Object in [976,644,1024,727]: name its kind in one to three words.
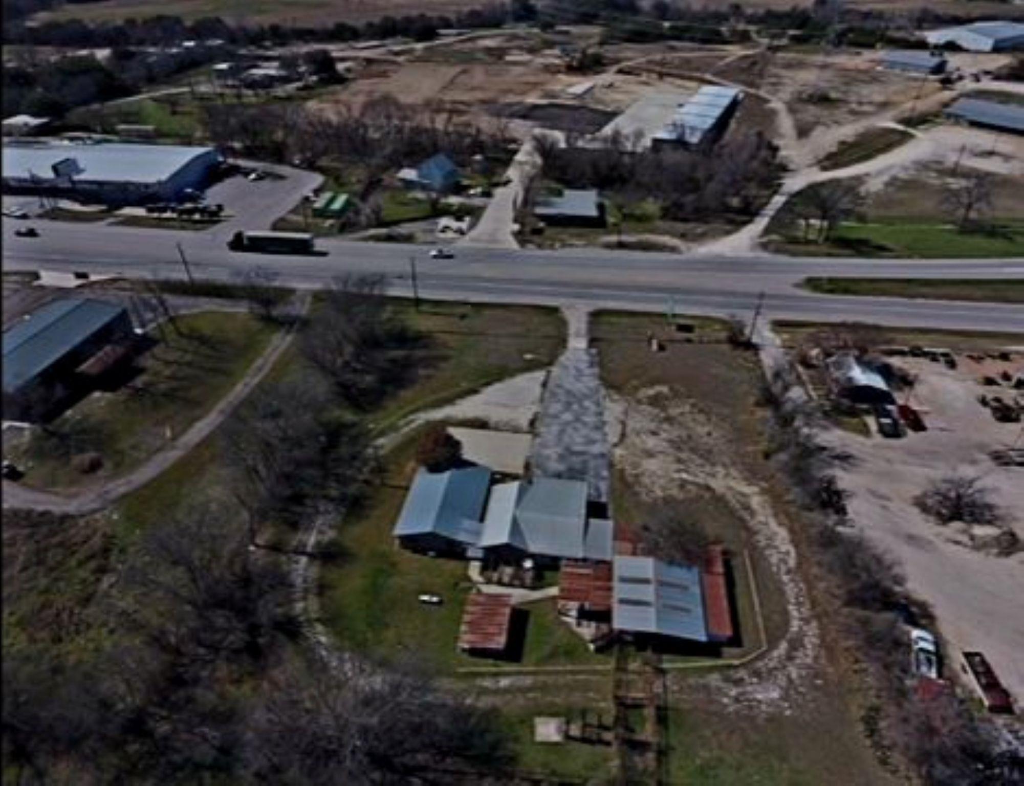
trailer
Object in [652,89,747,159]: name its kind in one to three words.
building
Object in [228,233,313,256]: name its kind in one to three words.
truck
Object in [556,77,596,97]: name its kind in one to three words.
shed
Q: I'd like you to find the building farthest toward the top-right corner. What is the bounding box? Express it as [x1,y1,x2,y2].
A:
[927,19,1024,51]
